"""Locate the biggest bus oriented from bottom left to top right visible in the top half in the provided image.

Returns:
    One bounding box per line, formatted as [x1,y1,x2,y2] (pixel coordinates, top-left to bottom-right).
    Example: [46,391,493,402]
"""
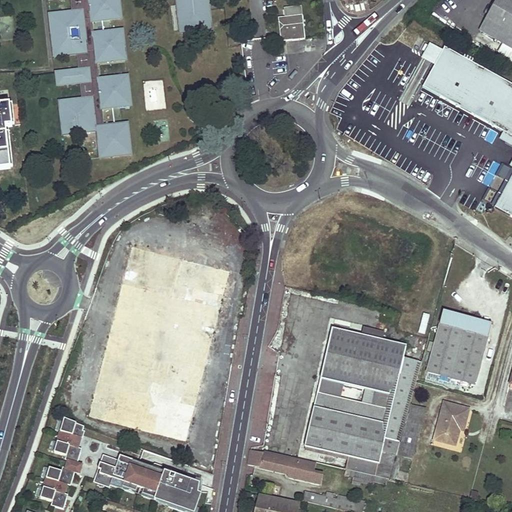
[352,11,381,34]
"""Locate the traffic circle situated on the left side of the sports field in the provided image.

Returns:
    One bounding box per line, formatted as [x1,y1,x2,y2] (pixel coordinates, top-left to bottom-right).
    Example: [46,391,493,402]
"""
[0,228,96,351]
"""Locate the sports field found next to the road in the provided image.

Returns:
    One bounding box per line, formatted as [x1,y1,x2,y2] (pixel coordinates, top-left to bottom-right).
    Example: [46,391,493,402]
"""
[88,246,230,441]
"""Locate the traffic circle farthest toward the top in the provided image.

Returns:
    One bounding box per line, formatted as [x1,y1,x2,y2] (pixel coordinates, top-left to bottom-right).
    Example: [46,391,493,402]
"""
[191,82,360,244]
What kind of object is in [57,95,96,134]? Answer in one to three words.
house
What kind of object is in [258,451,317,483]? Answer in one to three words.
barn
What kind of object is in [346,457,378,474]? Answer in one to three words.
shed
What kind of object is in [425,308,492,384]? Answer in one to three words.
building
